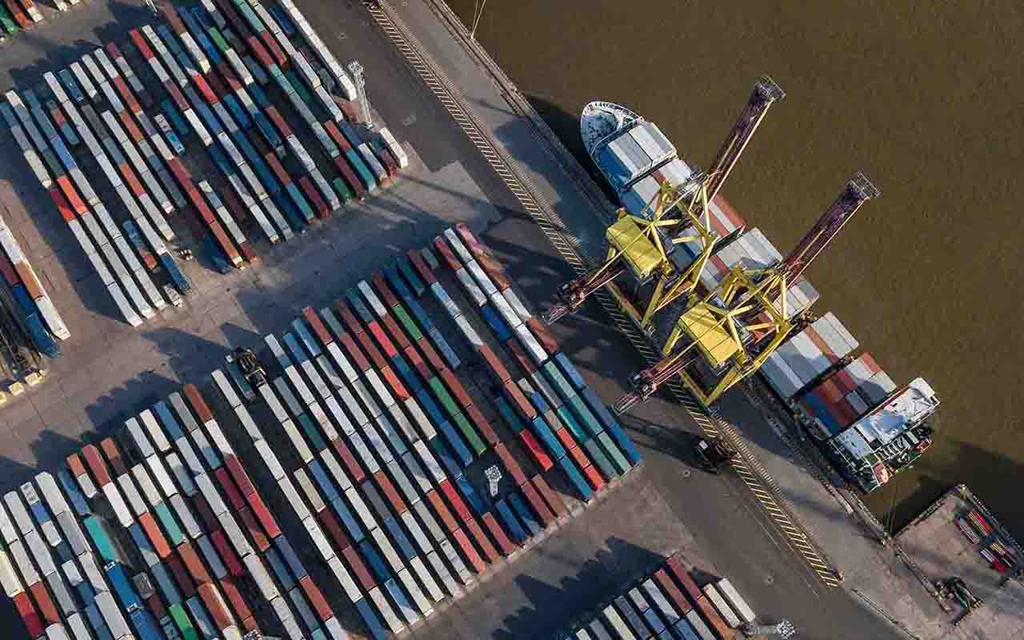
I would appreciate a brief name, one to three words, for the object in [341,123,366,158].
shipping container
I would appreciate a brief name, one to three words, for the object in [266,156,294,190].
shipping container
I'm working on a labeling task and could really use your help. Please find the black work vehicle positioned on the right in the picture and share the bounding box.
[691,430,744,479]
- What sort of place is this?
port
